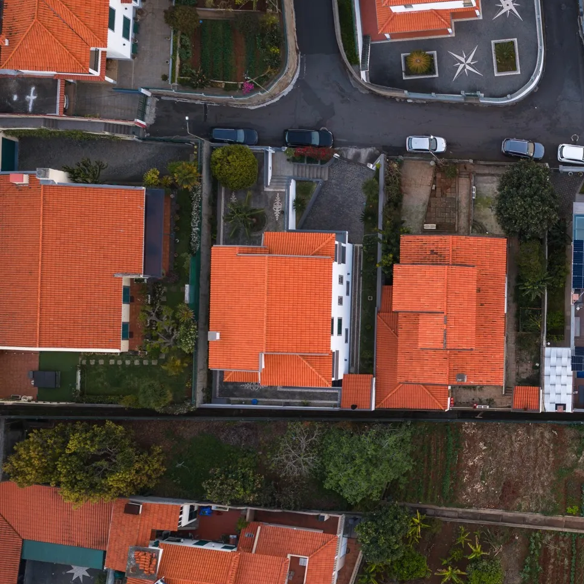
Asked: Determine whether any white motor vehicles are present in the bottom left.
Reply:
No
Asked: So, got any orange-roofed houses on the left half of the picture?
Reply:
Yes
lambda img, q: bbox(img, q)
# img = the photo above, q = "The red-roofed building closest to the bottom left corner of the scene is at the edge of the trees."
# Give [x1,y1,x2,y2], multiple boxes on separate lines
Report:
[0,479,123,584]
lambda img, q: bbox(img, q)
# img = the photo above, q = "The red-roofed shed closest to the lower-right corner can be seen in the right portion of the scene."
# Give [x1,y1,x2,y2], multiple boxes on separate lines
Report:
[513,386,540,409]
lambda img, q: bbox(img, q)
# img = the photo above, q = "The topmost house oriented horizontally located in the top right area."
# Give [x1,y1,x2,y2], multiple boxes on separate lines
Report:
[378,0,483,46]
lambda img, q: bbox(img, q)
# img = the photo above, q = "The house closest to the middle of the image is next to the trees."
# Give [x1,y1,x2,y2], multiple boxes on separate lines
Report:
[208,231,353,387]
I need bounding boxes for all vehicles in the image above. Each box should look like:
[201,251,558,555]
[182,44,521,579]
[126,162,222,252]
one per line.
[557,145,584,165]
[501,139,545,160]
[407,134,447,155]
[287,129,335,150]
[212,126,262,147]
